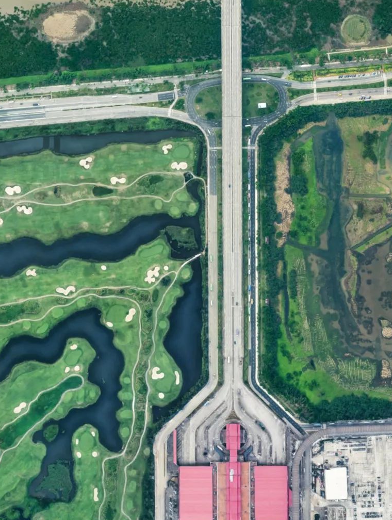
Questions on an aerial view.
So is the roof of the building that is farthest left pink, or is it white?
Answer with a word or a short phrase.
pink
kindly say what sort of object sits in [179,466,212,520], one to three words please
building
